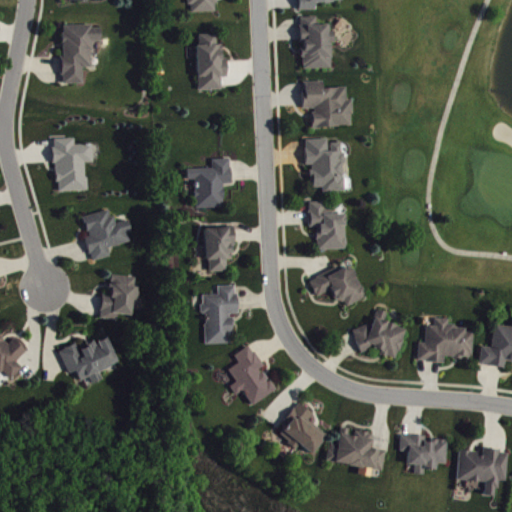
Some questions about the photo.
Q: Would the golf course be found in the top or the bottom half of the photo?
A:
top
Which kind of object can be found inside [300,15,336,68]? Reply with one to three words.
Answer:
house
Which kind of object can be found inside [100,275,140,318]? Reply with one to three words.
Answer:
house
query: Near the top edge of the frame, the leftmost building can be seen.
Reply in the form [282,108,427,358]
[61,24,102,82]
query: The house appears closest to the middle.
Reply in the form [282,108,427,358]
[204,228,236,272]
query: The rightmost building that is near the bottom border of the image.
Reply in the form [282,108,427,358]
[459,448,509,497]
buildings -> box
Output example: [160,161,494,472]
[100,275,140,318]
[197,33,228,90]
[309,264,366,308]
[202,285,238,344]
[188,0,218,12]
[61,24,102,82]
[280,401,328,457]
[309,202,347,250]
[0,334,28,382]
[418,318,474,363]
[82,210,132,258]
[188,158,232,208]
[229,346,276,408]
[459,448,509,497]
[58,334,118,386]
[400,436,448,476]
[350,310,410,358]
[300,15,336,68]
[303,80,354,128]
[299,0,340,9]
[204,228,236,272]
[336,427,386,470]
[306,138,346,191]
[52,138,94,192]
